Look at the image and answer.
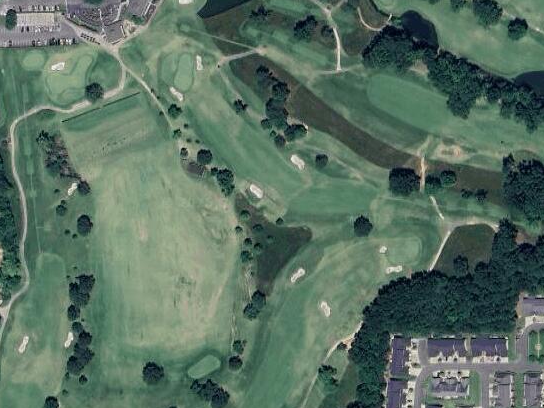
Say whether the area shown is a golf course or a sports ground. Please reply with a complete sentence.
It's a golf course.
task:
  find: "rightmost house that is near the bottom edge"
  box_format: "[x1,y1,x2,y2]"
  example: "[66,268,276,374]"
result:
[523,374,543,408]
